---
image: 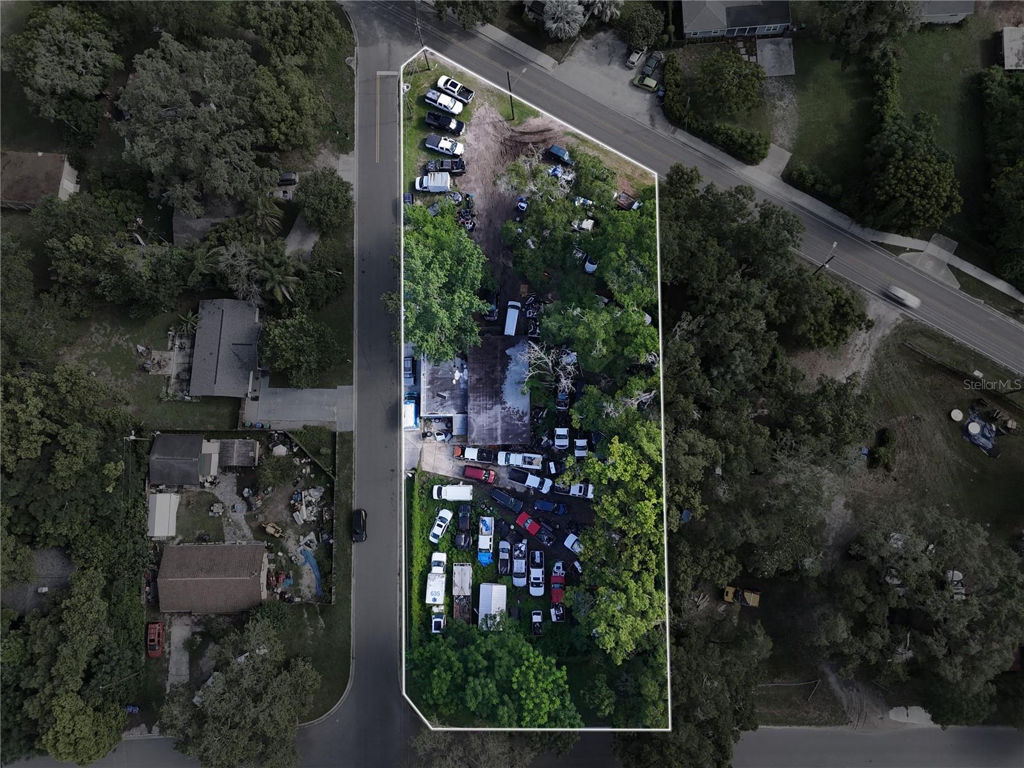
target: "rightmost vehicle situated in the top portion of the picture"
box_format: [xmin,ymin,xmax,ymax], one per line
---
[883,284,919,309]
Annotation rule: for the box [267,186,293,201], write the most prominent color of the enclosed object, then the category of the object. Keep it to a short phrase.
gray car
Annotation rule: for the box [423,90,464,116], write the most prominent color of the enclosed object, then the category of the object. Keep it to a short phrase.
white truck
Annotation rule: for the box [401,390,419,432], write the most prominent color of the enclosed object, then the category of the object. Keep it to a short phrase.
white vehicle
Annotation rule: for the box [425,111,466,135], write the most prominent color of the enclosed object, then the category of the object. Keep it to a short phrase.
black truck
